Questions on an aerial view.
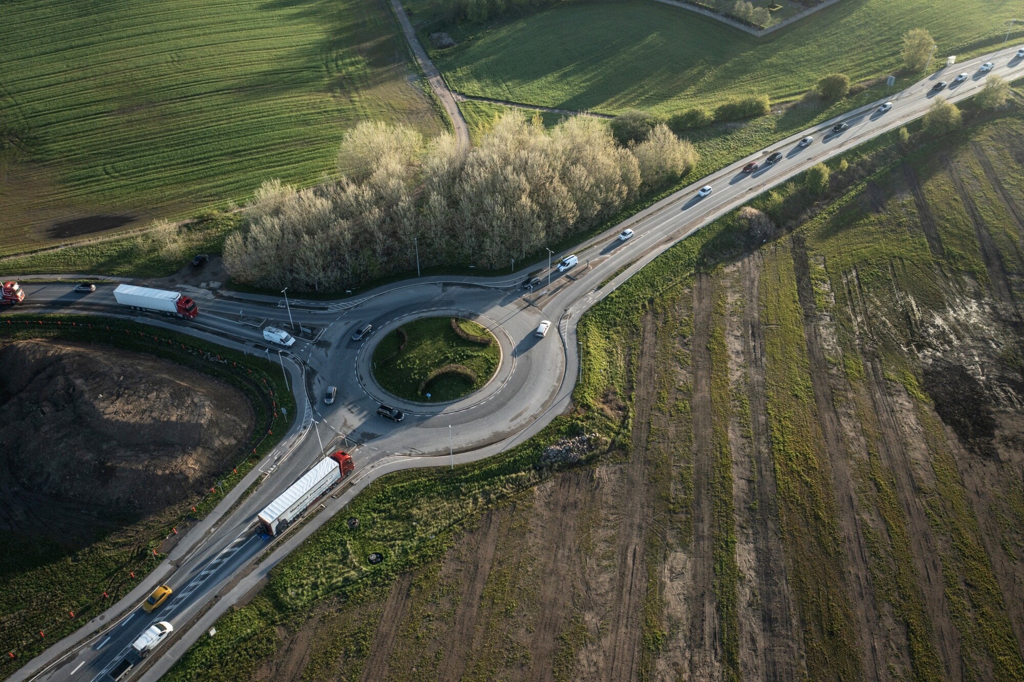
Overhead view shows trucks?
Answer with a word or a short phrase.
Yes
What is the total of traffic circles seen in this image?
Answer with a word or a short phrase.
one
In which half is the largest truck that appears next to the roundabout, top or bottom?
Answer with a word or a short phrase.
bottom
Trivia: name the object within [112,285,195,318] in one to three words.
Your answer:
truck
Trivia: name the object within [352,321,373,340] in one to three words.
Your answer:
car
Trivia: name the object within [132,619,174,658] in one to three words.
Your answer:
truck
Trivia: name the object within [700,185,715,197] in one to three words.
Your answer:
vehicle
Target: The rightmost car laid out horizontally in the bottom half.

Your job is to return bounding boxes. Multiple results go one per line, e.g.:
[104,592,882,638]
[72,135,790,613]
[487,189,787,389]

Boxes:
[376,403,405,420]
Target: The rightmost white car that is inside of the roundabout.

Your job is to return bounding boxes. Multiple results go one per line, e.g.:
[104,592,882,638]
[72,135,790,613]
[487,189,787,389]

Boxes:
[534,319,552,335]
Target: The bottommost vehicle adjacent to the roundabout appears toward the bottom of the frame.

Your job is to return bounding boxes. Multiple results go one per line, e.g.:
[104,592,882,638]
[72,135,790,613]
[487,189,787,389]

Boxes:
[257,450,357,535]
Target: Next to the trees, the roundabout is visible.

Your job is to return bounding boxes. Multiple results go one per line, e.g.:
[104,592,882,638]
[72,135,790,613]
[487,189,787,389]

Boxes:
[302,282,566,456]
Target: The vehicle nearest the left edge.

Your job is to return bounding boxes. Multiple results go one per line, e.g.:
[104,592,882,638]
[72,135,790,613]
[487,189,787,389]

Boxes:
[0,281,21,302]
